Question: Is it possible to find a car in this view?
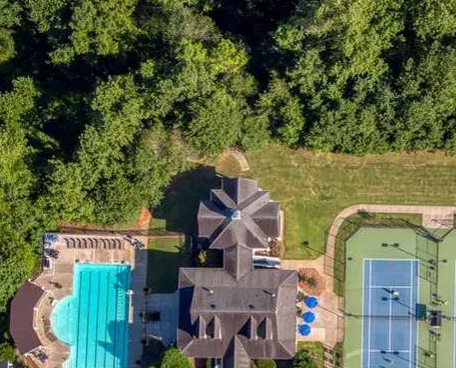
No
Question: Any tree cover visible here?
Yes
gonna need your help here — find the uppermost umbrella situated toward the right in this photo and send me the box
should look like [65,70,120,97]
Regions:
[304,296,317,309]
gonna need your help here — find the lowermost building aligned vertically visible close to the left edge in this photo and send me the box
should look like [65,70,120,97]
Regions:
[11,279,49,356]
